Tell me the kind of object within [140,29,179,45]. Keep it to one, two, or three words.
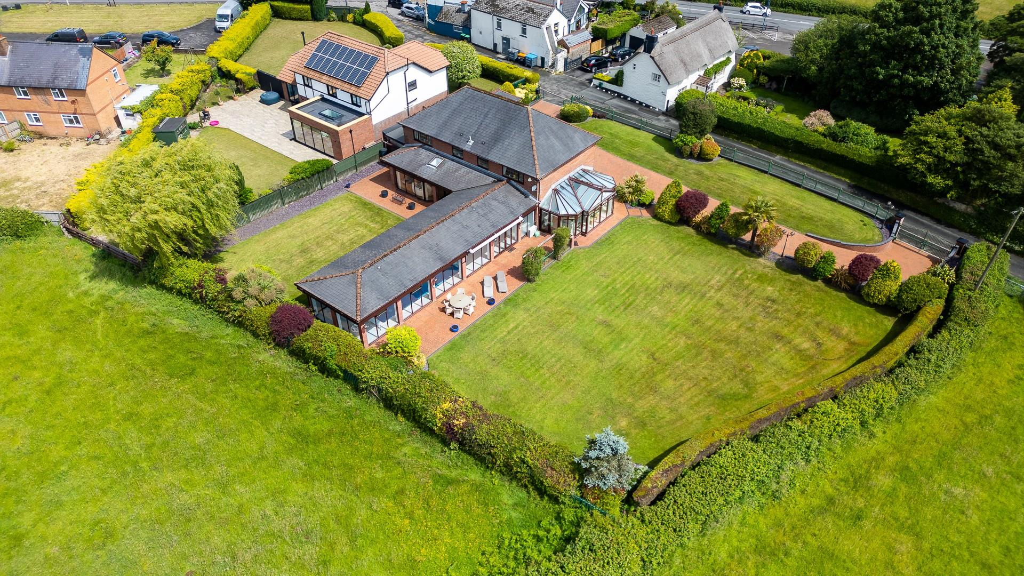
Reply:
car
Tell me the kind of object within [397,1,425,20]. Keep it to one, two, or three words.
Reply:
car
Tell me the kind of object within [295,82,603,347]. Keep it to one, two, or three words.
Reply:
house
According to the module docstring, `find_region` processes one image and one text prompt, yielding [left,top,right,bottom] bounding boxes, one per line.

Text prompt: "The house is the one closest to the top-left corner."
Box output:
[0,26,132,138]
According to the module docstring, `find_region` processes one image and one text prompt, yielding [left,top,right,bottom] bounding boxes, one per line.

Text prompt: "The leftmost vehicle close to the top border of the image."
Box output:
[41,24,86,42]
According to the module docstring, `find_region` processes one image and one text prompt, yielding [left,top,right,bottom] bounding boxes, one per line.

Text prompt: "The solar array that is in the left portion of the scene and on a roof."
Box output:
[301,42,380,87]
